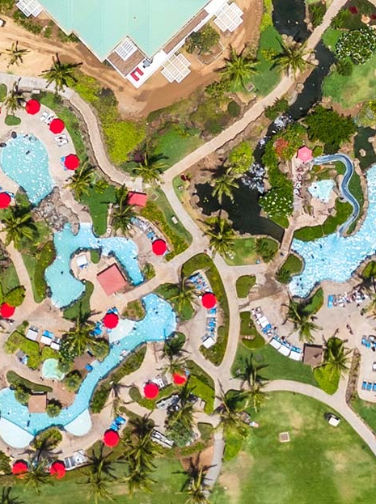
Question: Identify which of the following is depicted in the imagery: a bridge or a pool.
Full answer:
It is a pool that can be seen here.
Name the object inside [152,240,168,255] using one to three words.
umbrella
